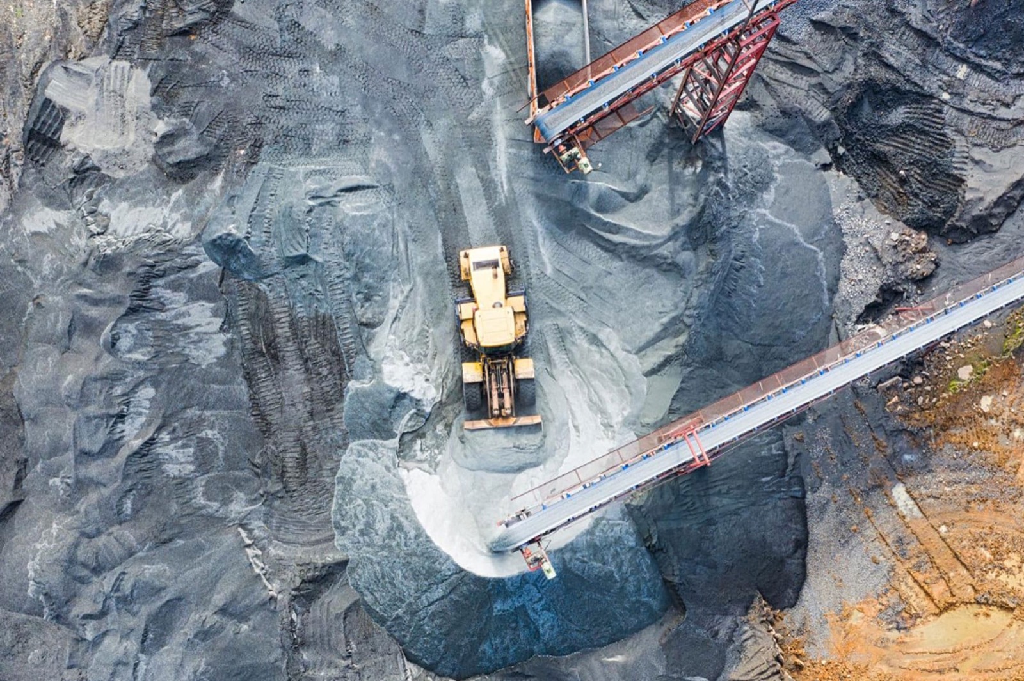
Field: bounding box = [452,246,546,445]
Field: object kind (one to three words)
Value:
work vehicle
